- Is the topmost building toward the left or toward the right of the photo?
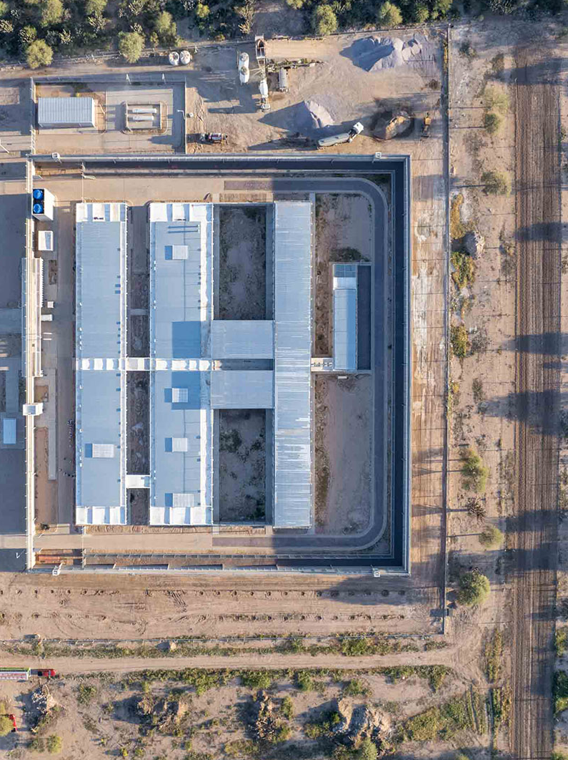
left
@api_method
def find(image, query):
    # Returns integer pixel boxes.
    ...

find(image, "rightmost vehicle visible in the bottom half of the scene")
[37,670,57,683]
